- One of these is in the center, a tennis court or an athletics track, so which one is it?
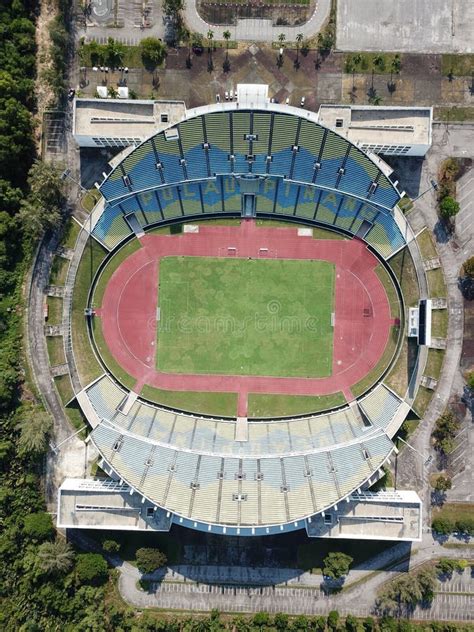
athletics track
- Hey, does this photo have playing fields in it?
Yes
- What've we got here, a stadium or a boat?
stadium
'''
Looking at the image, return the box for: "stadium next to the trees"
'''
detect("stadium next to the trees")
[45,83,447,533]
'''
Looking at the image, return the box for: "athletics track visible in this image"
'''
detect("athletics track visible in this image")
[96,216,396,415]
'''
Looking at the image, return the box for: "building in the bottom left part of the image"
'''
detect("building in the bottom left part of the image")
[60,483,176,531]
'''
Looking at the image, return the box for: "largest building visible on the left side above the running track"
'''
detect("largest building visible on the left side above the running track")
[72,98,188,144]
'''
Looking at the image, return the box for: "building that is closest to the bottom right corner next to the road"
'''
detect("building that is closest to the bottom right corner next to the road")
[305,491,422,539]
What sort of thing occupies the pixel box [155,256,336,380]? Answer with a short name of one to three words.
sports field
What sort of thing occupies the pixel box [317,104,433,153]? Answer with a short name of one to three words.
building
